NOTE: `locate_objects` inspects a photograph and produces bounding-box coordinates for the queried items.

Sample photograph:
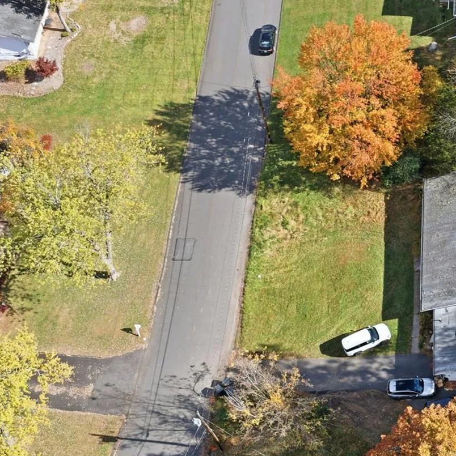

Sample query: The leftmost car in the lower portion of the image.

[340,326,392,360]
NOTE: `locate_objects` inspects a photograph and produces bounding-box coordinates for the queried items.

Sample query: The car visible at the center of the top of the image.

[256,27,277,58]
